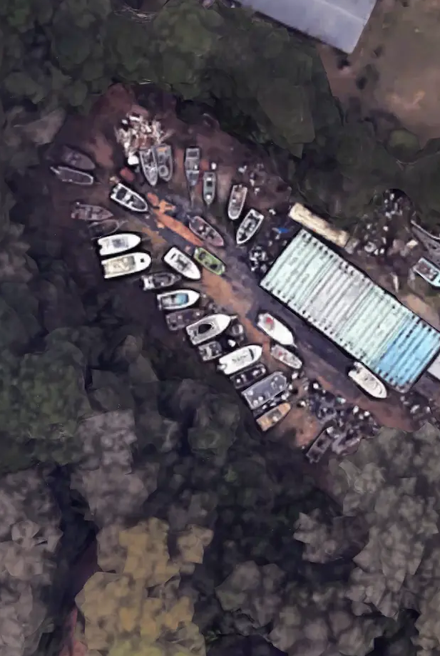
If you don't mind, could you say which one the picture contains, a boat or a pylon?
boat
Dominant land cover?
trees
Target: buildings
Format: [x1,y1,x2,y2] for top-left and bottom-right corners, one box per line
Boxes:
[260,229,440,390]
[256,0,377,54]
